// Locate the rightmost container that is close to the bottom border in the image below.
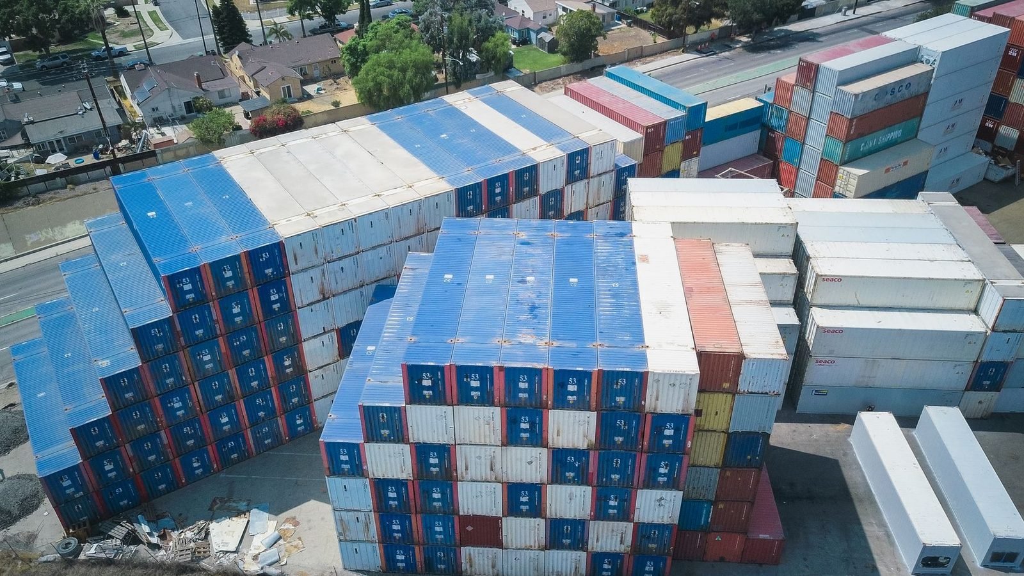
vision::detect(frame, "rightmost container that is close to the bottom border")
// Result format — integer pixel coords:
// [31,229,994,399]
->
[915,406,1024,567]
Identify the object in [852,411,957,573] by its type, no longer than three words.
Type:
shipping container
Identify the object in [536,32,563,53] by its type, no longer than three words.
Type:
shed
